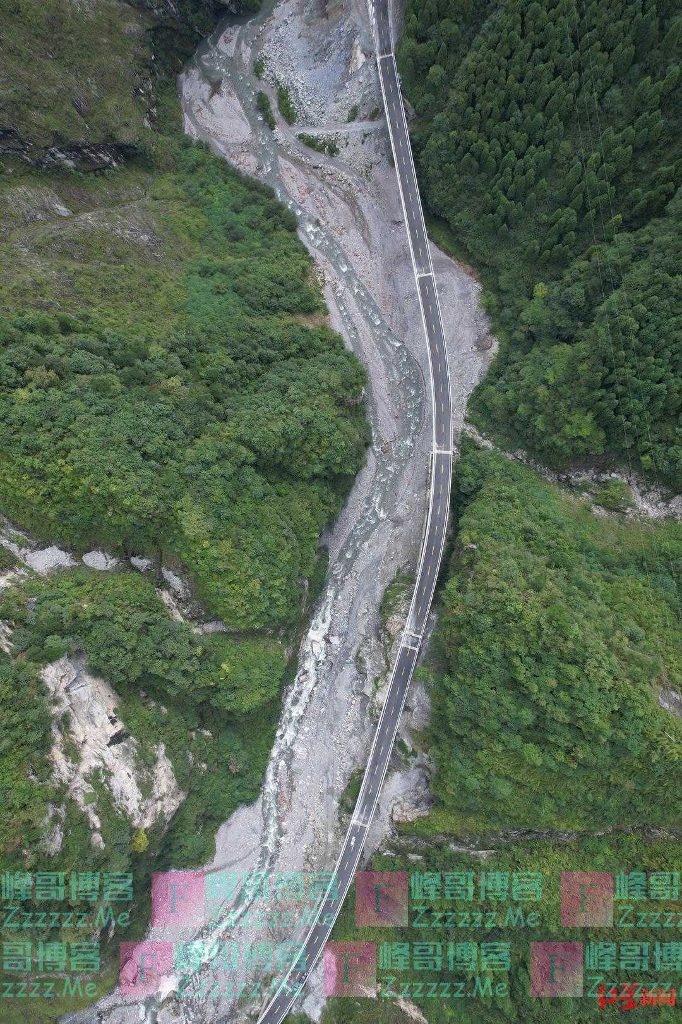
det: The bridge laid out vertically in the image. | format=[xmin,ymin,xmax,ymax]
[258,52,453,1024]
